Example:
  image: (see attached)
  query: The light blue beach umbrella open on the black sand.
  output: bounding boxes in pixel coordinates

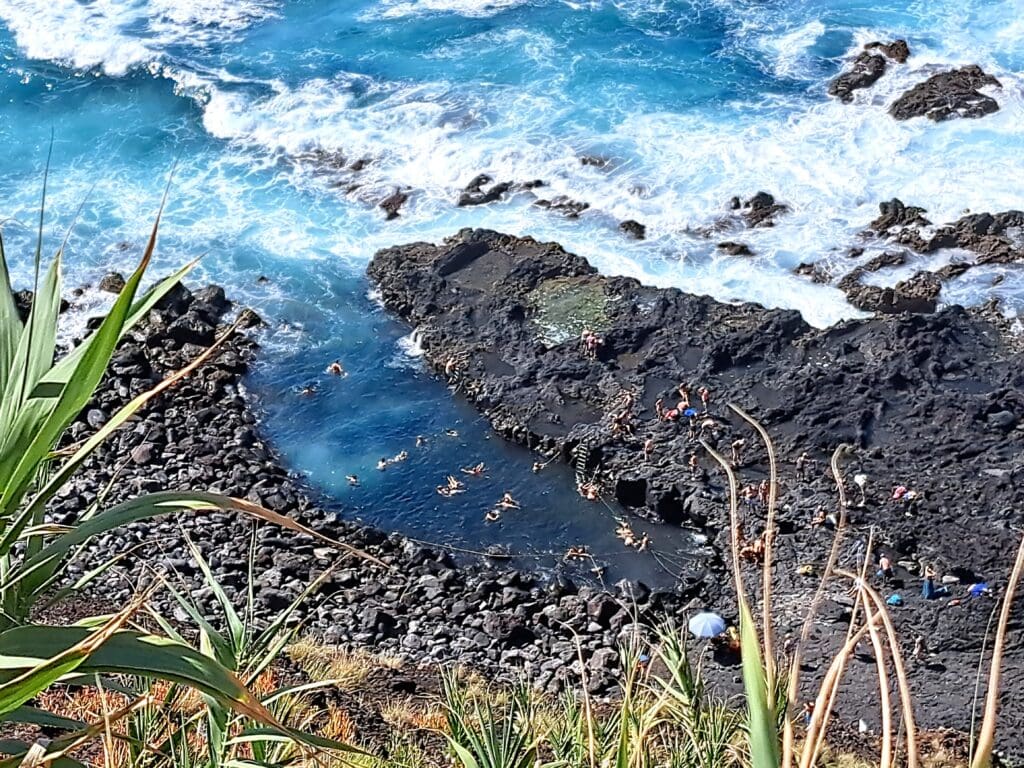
[688,611,731,648]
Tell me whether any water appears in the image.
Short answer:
Yes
